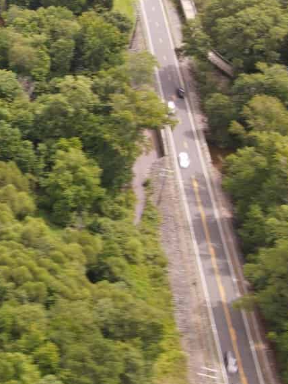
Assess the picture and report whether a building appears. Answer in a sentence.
No, no building is visible in the view.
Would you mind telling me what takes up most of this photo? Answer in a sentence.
Most of the picture is covered by trees.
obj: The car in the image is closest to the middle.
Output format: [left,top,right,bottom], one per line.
[178,150,190,166]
